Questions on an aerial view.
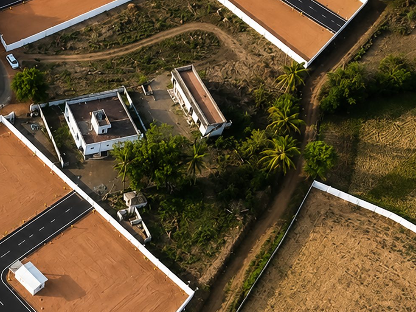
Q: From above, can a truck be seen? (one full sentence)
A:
No, no truck can be seen from above.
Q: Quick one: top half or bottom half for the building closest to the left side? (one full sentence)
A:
The building closest to the left side is in the bottom half of the image.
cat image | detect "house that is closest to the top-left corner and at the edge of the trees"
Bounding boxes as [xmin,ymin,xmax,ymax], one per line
[64,91,139,157]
